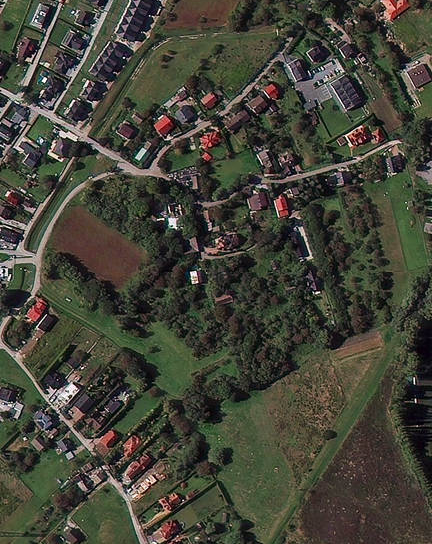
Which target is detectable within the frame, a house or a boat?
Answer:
house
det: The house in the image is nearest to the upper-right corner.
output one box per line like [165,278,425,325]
[382,0,411,19]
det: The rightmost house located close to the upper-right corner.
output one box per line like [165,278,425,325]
[408,63,432,87]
